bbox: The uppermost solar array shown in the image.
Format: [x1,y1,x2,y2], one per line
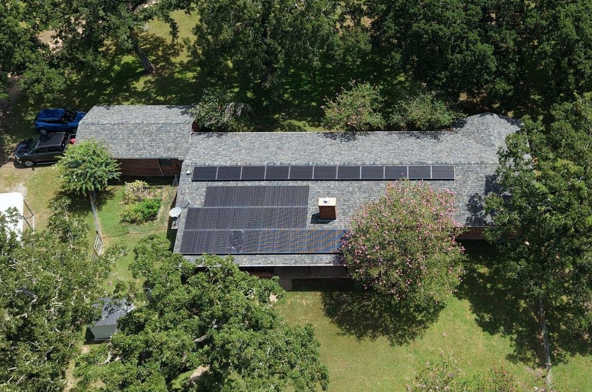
[191,166,455,179]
